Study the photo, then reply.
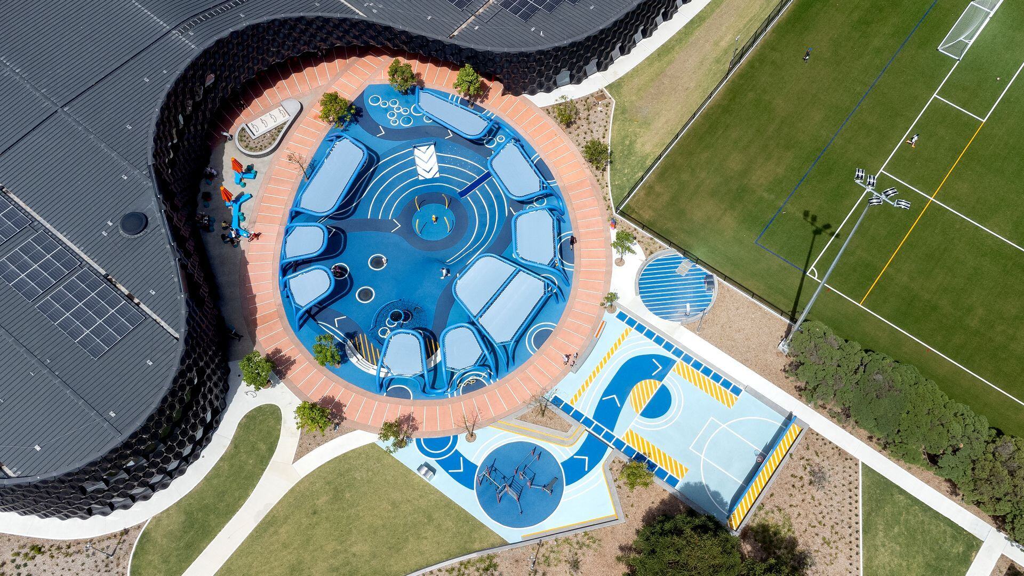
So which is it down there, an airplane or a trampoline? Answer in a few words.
trampoline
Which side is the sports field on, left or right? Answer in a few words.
right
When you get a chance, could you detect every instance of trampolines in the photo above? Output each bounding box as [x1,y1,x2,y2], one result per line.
[355,286,375,304]
[330,262,350,279]
[368,253,387,270]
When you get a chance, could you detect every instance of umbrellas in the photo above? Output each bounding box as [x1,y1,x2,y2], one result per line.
[233,160,245,180]
[220,186,233,202]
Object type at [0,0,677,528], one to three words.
building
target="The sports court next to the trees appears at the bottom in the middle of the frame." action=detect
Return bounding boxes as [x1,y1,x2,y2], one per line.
[375,310,788,543]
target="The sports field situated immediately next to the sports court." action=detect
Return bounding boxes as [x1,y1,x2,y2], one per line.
[618,0,1024,437]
